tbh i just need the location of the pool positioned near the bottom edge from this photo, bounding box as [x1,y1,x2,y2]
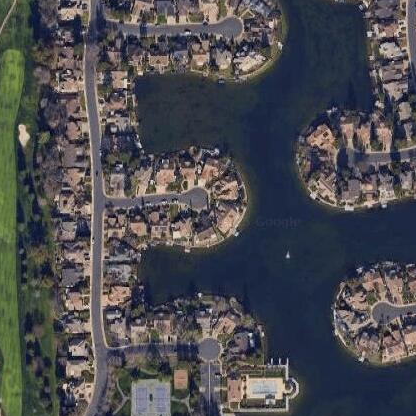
[242,375,285,399]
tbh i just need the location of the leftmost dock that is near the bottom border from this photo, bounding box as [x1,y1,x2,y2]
[240,358,299,411]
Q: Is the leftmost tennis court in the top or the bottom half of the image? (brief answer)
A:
bottom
